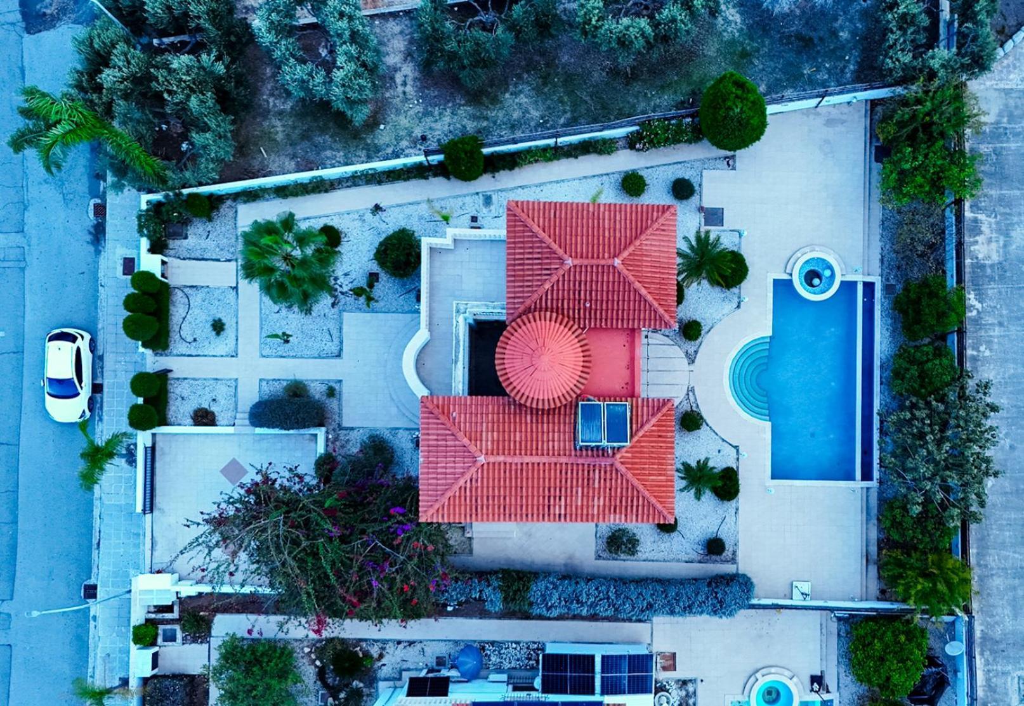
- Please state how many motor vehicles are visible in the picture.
one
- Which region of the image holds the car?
left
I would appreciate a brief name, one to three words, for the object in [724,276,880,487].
swimming pool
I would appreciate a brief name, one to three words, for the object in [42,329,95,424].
car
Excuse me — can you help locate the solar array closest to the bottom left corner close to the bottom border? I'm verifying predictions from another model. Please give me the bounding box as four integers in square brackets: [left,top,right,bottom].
[407,675,449,698]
